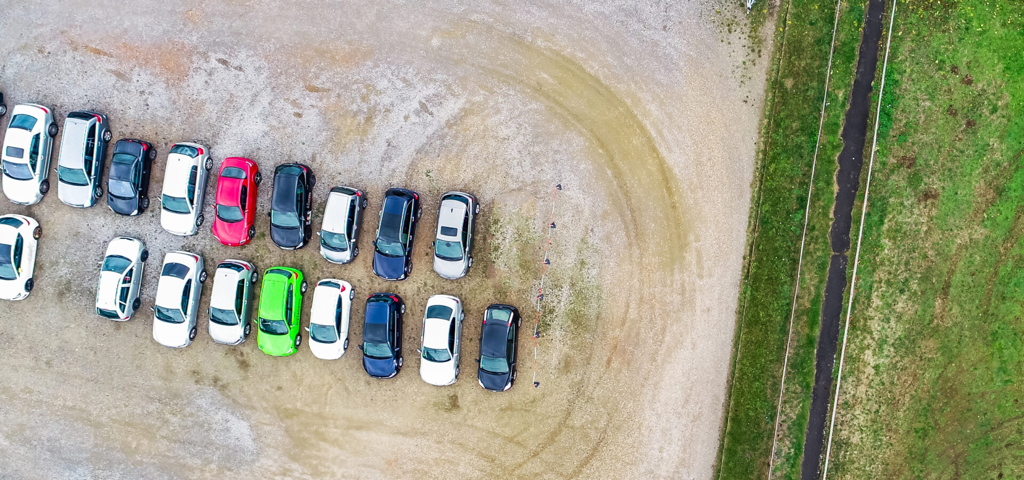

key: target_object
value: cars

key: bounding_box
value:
[101,137,156,217]
[472,304,522,393]
[413,294,465,388]
[208,157,261,248]
[263,161,316,251]
[427,190,480,280]
[368,188,422,283]
[313,184,367,266]
[94,235,148,323]
[356,292,406,380]
[253,266,307,358]
[154,140,212,237]
[50,109,111,209]
[0,213,42,302]
[202,258,258,346]
[302,277,355,361]
[0,104,58,205]
[148,250,207,349]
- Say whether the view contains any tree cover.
No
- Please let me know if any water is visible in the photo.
No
